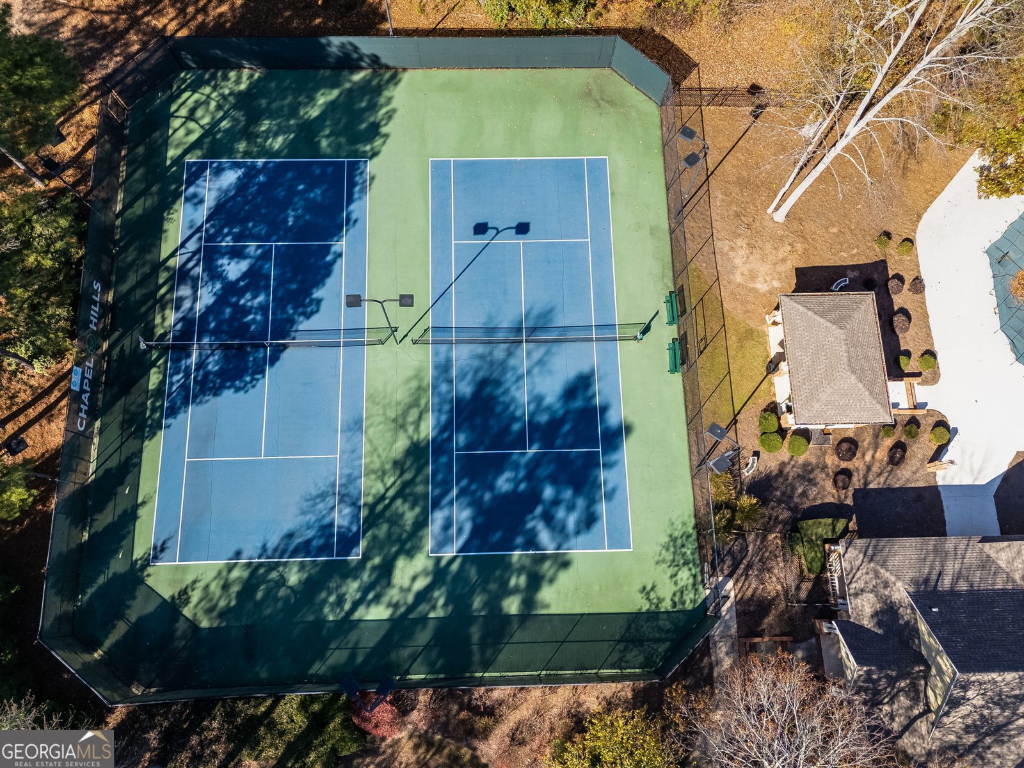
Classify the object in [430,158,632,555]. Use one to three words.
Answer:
tennis court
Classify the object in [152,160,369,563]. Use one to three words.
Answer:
tennis court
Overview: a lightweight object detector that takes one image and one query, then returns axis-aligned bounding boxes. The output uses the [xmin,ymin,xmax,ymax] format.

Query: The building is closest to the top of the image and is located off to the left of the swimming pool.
[764,290,897,432]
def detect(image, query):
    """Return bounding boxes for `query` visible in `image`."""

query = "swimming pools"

[984,215,1024,363]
